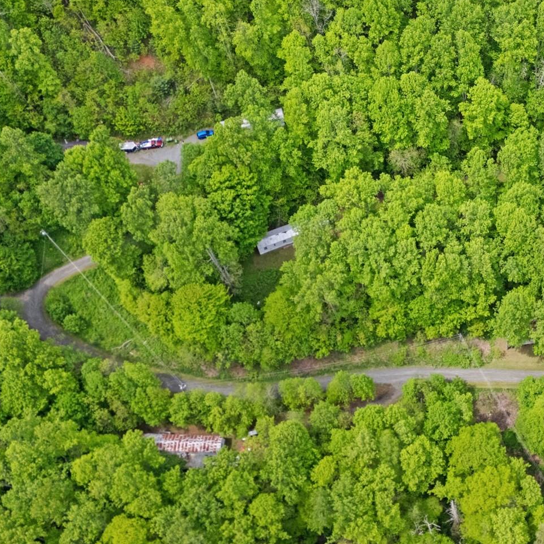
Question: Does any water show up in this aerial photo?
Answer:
No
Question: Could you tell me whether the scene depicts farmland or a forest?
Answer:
forest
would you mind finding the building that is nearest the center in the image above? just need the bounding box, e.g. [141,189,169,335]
[259,223,314,255]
